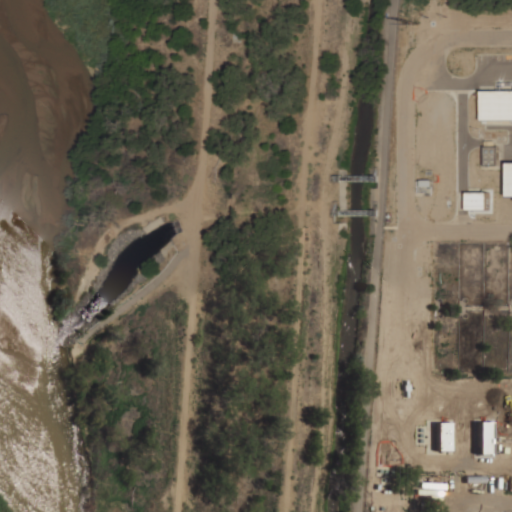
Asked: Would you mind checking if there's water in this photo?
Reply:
Yes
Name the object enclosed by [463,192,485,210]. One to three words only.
building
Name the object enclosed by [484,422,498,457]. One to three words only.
building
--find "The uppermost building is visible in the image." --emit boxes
[478,91,512,120]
